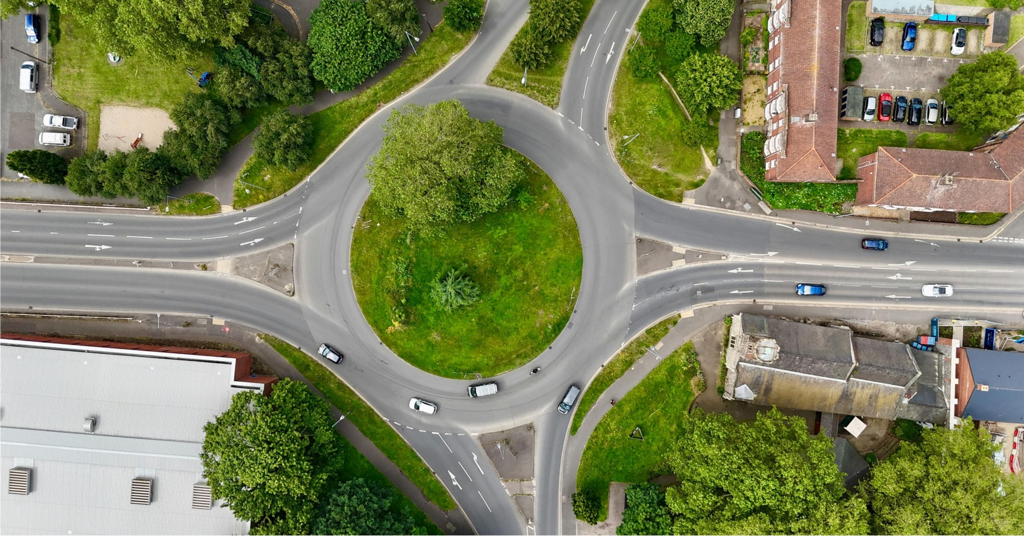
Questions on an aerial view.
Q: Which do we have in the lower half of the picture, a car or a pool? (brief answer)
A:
car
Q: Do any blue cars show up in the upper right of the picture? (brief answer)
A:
Yes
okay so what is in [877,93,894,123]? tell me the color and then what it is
red car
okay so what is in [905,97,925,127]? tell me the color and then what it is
black car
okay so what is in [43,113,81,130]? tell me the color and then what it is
white vehicle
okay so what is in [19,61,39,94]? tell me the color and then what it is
white vehicle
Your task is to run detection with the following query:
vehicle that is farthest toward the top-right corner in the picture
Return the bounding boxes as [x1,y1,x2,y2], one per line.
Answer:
[948,27,967,56]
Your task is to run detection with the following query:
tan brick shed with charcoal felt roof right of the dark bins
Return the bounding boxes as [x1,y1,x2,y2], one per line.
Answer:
[983,11,1011,47]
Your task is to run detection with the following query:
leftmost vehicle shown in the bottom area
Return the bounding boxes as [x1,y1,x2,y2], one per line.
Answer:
[316,342,345,365]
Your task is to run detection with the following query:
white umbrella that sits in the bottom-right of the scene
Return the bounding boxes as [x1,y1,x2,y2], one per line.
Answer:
[842,414,867,439]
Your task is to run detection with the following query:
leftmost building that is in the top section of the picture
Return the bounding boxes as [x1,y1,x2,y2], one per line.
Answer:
[761,0,842,184]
